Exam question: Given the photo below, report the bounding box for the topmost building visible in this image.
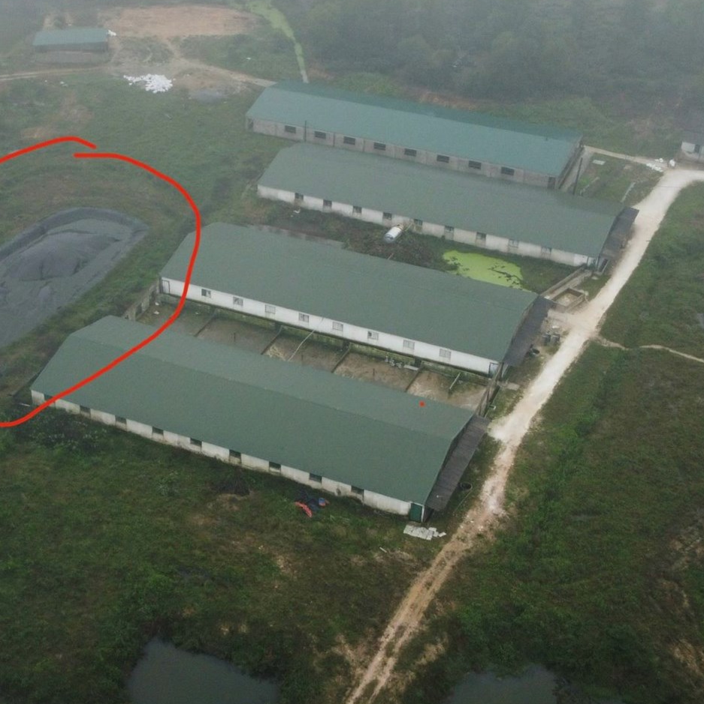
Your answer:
[31,22,110,68]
